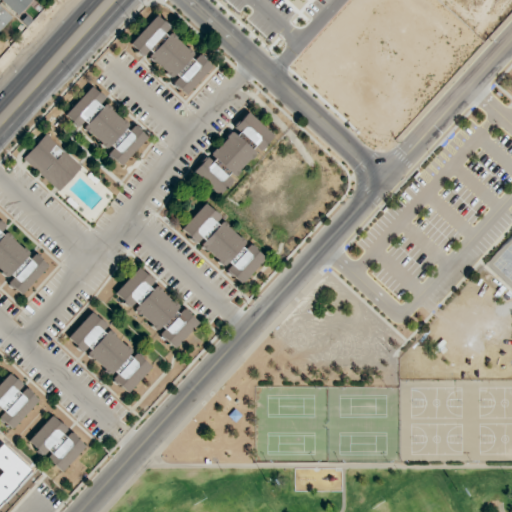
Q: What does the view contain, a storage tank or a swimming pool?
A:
swimming pool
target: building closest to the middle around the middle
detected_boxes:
[182,202,266,284]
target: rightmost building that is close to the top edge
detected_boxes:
[132,14,214,96]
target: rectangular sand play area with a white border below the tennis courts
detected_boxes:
[294,468,344,492]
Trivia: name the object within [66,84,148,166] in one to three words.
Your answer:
building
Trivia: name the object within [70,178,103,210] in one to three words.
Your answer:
swimming pool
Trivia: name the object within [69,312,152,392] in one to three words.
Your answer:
building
